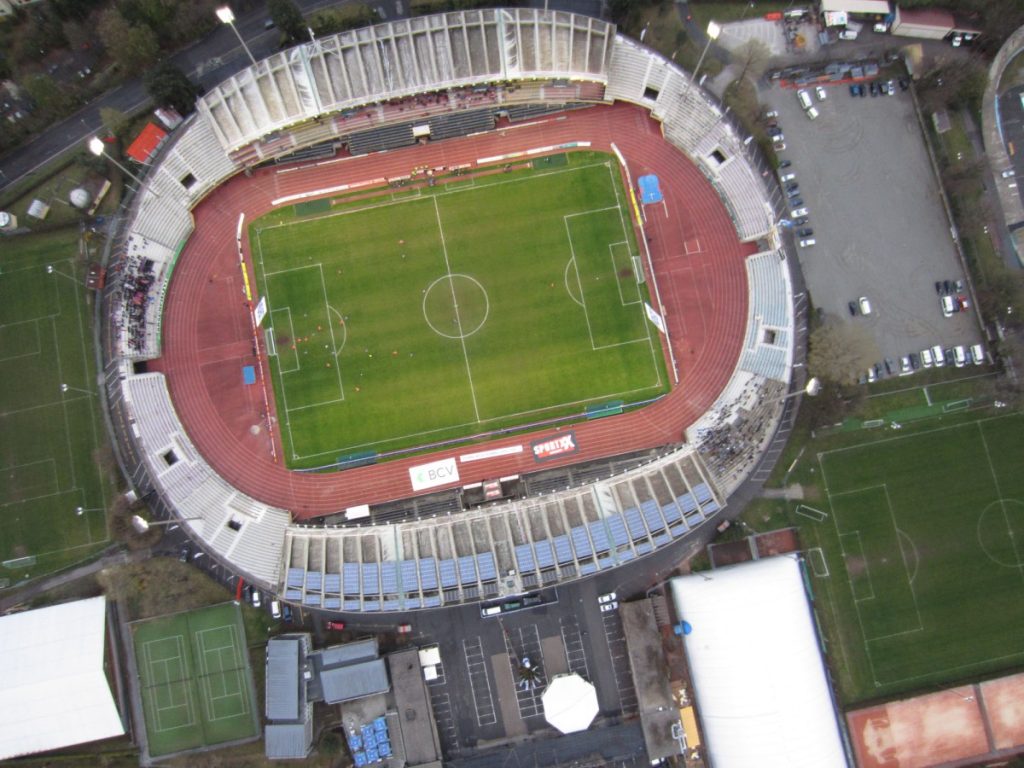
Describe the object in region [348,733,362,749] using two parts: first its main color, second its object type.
blue umbrella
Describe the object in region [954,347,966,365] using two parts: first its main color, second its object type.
white vehicle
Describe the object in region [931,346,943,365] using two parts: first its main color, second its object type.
white vehicle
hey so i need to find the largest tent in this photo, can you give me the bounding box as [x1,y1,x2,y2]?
[540,668,600,734]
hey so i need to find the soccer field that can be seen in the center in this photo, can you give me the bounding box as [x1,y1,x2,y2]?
[247,150,672,472]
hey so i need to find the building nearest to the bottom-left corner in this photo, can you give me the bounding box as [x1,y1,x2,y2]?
[0,596,129,758]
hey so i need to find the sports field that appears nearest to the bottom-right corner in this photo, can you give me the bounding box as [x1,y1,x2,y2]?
[795,407,1024,708]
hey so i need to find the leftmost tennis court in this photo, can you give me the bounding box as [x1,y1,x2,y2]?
[131,601,260,757]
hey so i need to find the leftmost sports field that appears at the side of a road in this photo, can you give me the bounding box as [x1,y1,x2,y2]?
[0,239,120,590]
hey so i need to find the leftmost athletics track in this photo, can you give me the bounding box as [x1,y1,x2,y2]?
[159,100,748,524]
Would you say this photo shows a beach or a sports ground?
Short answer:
sports ground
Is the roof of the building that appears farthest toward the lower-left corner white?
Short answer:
Yes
